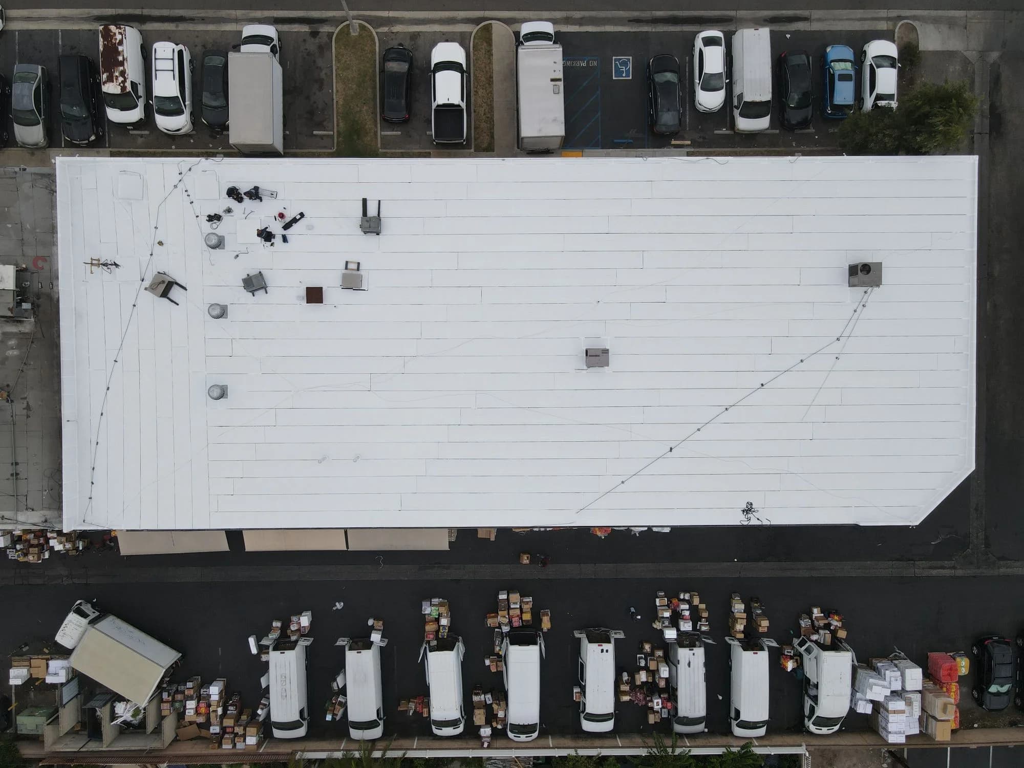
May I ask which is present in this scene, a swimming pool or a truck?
truck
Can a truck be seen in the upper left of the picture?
Yes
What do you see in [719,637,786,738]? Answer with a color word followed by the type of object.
white van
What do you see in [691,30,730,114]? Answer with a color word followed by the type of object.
white car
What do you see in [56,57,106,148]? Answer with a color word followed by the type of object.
black car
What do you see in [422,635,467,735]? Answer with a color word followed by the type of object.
white van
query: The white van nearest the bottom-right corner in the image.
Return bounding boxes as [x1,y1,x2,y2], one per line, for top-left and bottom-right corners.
[792,635,856,734]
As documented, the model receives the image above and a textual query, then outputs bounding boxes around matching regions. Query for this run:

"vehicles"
[0,67,18,153]
[332,637,396,740]
[49,597,189,710]
[856,39,899,115]
[774,51,816,131]
[729,27,775,137]
[253,631,319,741]
[428,43,469,148]
[422,635,467,735]
[691,30,730,114]
[513,24,565,157]
[10,64,57,149]
[500,631,544,742]
[56,57,106,148]
[569,630,629,732]
[228,29,287,157]
[818,45,862,120]
[658,634,723,734]
[100,24,151,131]
[196,50,228,129]
[792,635,856,734]
[151,42,198,136]
[719,637,786,738]
[967,634,1015,714]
